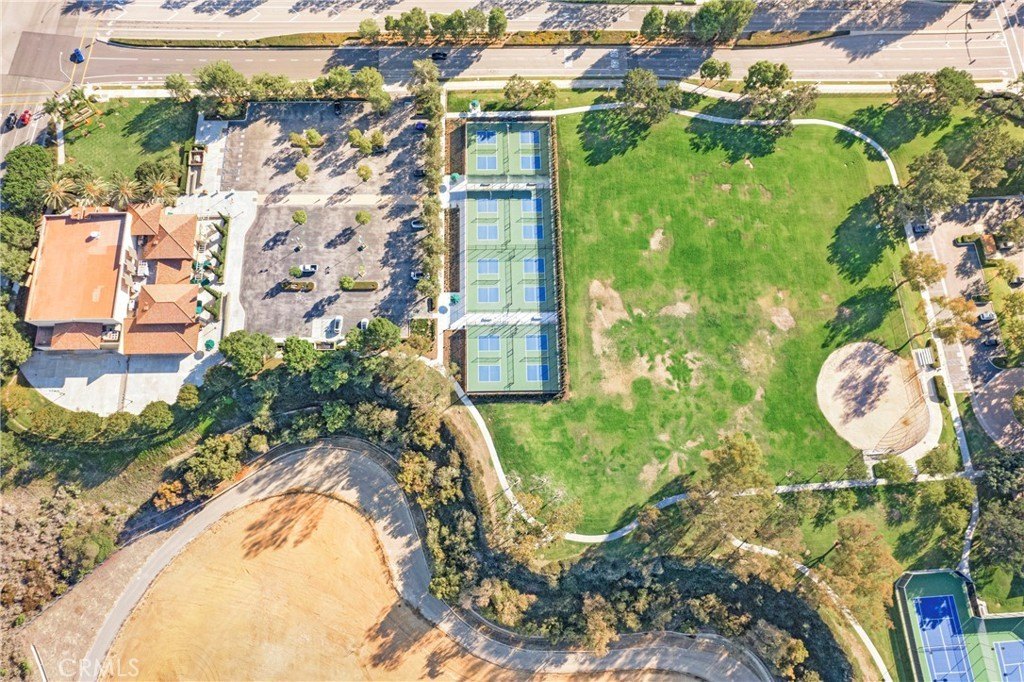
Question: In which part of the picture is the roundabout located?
right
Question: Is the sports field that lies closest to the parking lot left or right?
right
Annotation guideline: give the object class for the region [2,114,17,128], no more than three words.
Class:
car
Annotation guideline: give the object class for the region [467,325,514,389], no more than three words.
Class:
sports court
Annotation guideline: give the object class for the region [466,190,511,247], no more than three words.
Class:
sports court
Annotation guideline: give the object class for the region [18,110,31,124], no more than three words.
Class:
vehicle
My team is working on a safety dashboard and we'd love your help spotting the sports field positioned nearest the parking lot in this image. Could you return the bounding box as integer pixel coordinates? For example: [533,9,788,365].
[473,107,931,534]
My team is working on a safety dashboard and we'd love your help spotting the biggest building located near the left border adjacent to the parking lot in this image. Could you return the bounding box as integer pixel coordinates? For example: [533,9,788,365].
[20,202,209,361]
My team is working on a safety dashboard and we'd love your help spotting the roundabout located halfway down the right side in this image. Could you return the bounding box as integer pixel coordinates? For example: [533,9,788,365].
[965,336,1024,459]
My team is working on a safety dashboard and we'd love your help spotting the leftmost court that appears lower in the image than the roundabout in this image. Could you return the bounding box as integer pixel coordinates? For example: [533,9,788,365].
[905,572,986,682]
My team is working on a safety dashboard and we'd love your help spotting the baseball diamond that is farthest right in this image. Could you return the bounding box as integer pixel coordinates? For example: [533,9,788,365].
[817,342,930,454]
